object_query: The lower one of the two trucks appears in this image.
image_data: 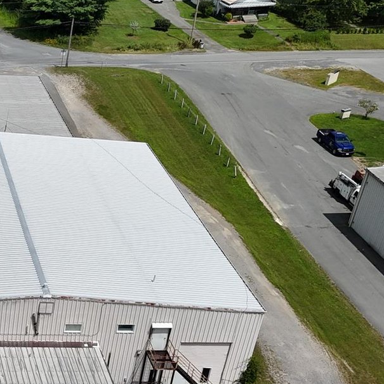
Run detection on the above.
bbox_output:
[326,165,365,207]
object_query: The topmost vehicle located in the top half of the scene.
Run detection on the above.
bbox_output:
[318,127,357,153]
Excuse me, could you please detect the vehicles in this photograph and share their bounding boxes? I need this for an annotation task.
[326,165,365,207]
[318,127,357,153]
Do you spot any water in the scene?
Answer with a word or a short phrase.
No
